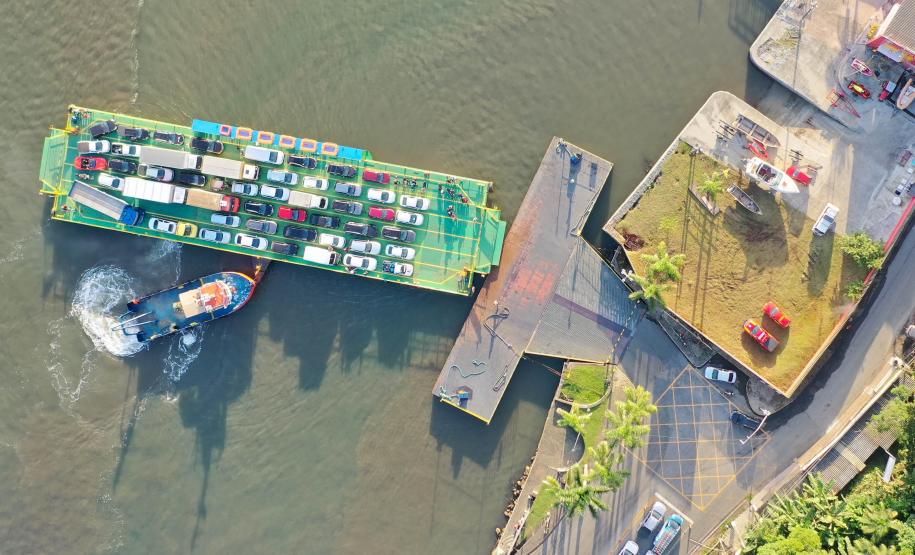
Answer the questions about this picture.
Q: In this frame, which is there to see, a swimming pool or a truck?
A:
truck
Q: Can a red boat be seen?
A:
Yes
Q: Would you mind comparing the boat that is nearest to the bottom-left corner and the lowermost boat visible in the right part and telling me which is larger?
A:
the boat that is nearest to the bottom-left corner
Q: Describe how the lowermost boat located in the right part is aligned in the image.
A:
diagonally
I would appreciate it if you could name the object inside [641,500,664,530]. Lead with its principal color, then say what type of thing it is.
white car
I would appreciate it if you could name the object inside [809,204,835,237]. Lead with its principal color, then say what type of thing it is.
white truck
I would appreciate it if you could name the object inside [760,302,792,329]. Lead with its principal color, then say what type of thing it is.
red truck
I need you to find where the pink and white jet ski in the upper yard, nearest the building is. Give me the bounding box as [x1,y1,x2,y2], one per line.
[848,58,869,75]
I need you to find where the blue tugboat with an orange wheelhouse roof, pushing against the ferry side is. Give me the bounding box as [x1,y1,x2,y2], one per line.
[112,272,261,341]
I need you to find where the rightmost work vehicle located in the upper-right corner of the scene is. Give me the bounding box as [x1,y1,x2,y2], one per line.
[873,73,899,97]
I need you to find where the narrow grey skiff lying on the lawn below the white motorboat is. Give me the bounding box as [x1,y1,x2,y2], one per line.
[726,184,762,214]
